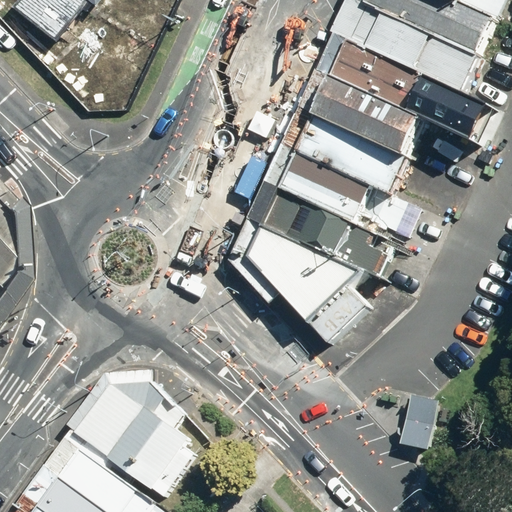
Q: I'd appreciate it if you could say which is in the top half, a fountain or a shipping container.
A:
shipping container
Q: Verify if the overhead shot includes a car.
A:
Yes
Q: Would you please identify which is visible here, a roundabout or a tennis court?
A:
roundabout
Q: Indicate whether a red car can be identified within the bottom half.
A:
Yes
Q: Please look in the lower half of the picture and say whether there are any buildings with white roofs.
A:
Yes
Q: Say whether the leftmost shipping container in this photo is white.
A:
No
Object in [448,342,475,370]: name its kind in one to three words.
car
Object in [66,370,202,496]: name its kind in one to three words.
house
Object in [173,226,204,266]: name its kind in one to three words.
truck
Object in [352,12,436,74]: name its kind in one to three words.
building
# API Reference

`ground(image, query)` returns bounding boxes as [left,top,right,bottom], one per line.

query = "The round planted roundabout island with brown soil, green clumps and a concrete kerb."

[97,226,160,288]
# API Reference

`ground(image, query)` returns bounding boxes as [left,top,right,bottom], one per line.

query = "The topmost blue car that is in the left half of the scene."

[153,107,178,138]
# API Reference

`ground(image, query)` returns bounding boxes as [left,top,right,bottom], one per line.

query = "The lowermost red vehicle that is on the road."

[300,402,330,420]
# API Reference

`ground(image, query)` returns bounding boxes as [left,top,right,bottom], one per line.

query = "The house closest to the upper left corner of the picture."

[14,0,99,42]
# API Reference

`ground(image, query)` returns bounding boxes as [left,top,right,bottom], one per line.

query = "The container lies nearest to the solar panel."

[234,154,273,202]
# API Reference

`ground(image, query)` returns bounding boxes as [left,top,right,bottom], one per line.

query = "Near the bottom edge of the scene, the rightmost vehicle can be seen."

[327,478,356,509]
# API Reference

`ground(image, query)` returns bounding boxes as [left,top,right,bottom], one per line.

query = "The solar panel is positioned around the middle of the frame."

[290,204,310,232]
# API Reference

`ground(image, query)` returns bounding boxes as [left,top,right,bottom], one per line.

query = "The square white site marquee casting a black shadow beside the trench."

[248,111,279,140]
